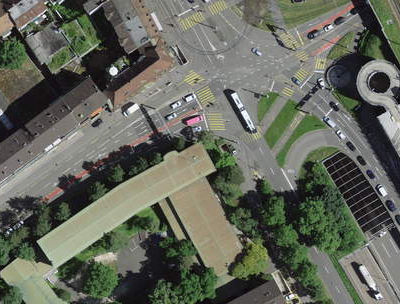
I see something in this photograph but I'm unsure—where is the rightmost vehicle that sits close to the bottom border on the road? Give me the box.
[359,266,382,299]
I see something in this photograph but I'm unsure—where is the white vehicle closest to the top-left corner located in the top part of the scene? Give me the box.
[122,104,138,116]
